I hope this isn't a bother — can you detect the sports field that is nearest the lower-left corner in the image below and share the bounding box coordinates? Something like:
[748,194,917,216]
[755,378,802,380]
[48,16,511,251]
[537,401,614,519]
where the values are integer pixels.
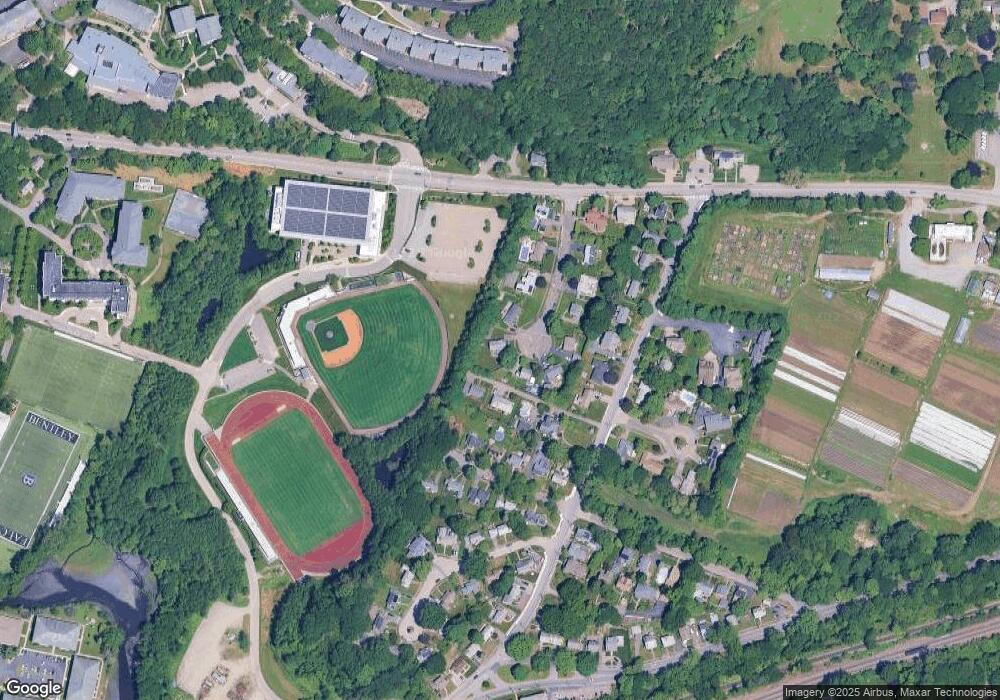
[0,398,96,552]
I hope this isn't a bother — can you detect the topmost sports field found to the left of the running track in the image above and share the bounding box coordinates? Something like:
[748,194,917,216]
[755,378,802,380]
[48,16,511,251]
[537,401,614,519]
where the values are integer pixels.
[5,326,145,435]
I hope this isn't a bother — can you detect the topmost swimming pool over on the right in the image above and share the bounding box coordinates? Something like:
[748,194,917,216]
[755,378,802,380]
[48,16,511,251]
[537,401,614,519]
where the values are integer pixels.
[680,388,697,406]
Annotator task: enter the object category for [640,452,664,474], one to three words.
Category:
house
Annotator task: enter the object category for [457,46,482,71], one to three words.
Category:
building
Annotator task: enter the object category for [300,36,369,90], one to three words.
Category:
building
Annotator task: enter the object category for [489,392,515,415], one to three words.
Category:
house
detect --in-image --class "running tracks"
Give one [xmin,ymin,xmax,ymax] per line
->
[204,390,372,582]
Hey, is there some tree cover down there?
Yes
